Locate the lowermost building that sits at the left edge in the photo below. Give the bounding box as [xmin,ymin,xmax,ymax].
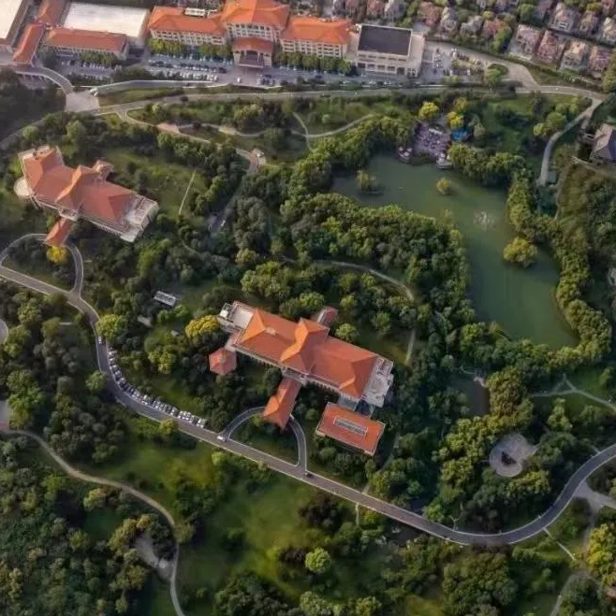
[8,147,165,250]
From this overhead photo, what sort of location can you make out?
residential area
